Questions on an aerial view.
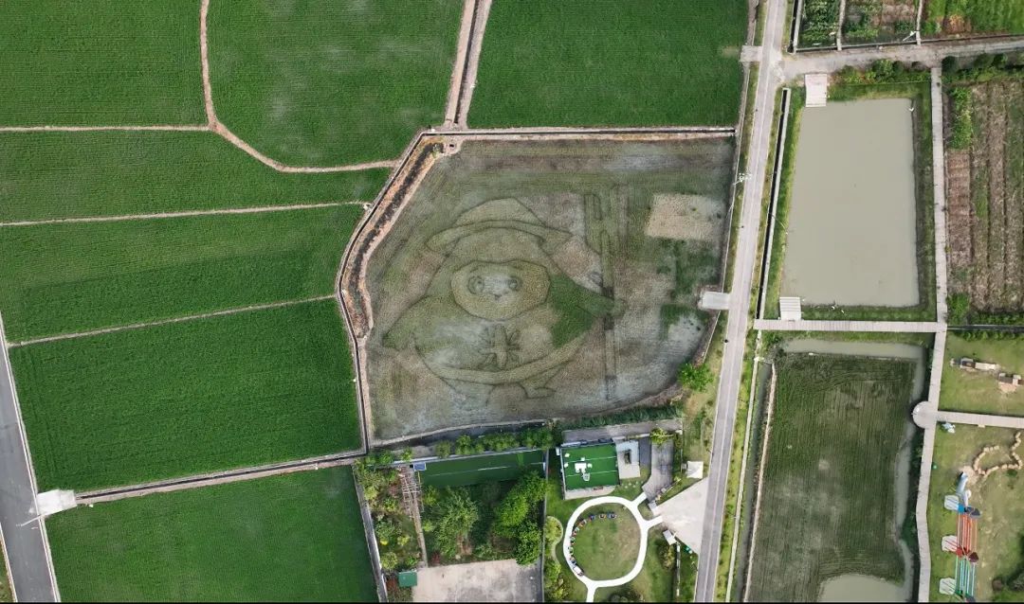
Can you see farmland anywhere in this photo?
Yes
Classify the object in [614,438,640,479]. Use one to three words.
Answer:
building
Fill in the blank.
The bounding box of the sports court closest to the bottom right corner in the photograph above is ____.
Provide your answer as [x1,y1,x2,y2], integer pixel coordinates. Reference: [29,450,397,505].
[563,443,618,489]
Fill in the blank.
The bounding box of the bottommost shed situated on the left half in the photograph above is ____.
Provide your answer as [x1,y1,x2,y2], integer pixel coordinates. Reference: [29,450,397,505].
[399,567,419,588]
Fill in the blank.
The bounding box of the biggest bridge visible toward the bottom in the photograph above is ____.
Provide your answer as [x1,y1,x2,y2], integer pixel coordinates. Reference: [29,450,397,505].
[37,490,77,518]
